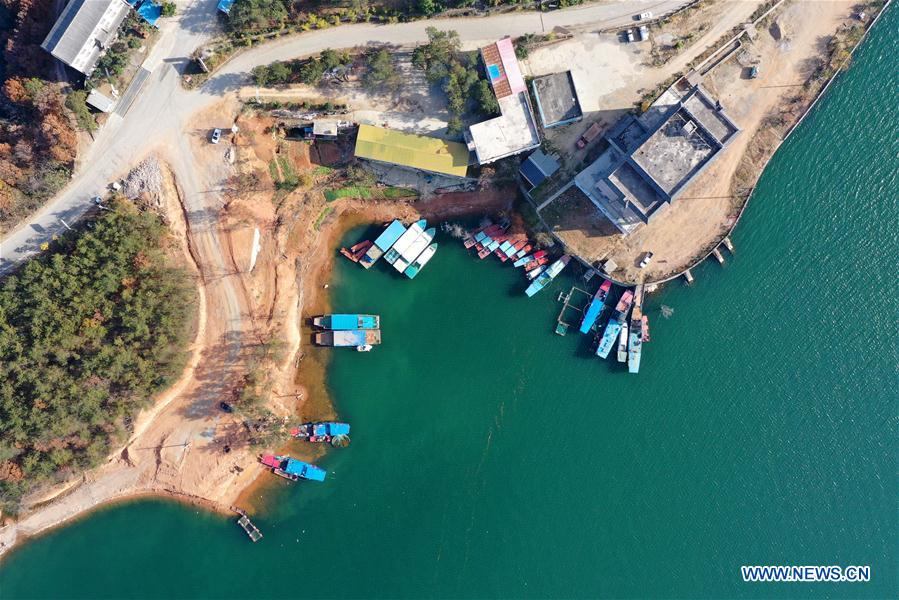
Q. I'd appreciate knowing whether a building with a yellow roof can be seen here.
Yes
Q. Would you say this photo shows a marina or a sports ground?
marina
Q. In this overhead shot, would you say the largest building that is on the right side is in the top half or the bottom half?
top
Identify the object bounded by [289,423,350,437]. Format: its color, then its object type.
blue boat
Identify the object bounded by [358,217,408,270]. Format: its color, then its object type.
blue boat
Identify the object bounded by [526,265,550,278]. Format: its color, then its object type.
white boat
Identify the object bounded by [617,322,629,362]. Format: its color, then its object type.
white boat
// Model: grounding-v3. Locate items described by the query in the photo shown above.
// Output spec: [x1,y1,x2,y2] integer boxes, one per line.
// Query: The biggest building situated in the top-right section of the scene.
[573,76,743,237]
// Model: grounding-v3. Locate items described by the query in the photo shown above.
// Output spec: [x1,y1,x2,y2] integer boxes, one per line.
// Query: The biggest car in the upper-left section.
[209,127,221,142]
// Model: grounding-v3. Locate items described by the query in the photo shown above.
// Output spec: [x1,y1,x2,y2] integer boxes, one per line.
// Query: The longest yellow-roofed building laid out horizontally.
[355,124,471,177]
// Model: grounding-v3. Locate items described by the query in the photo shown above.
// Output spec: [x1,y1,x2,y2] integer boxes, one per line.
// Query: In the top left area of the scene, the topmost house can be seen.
[39,0,140,80]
